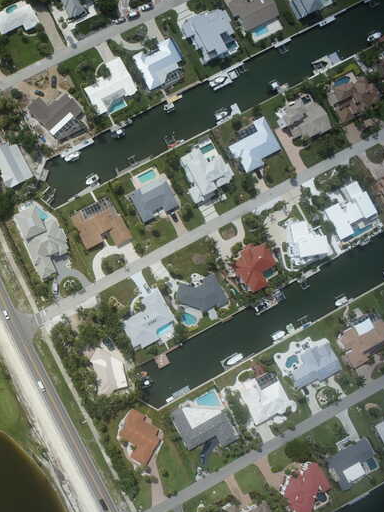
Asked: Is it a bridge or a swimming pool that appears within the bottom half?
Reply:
swimming pool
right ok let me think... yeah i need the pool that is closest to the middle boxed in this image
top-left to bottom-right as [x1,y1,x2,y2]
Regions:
[177,306,203,328]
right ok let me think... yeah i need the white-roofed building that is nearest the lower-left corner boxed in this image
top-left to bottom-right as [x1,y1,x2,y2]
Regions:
[91,349,128,394]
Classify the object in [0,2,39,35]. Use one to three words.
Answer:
house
